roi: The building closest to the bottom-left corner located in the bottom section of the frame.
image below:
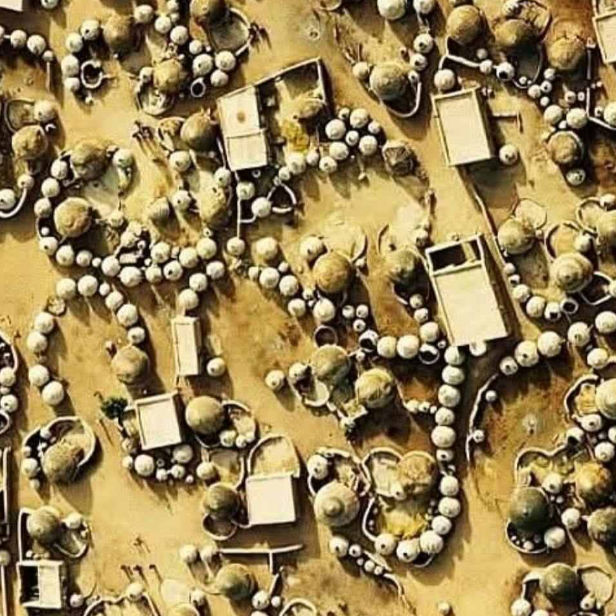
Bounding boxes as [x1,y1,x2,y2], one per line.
[19,557,68,608]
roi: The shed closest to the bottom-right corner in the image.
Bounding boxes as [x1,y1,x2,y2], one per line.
[539,560,580,601]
